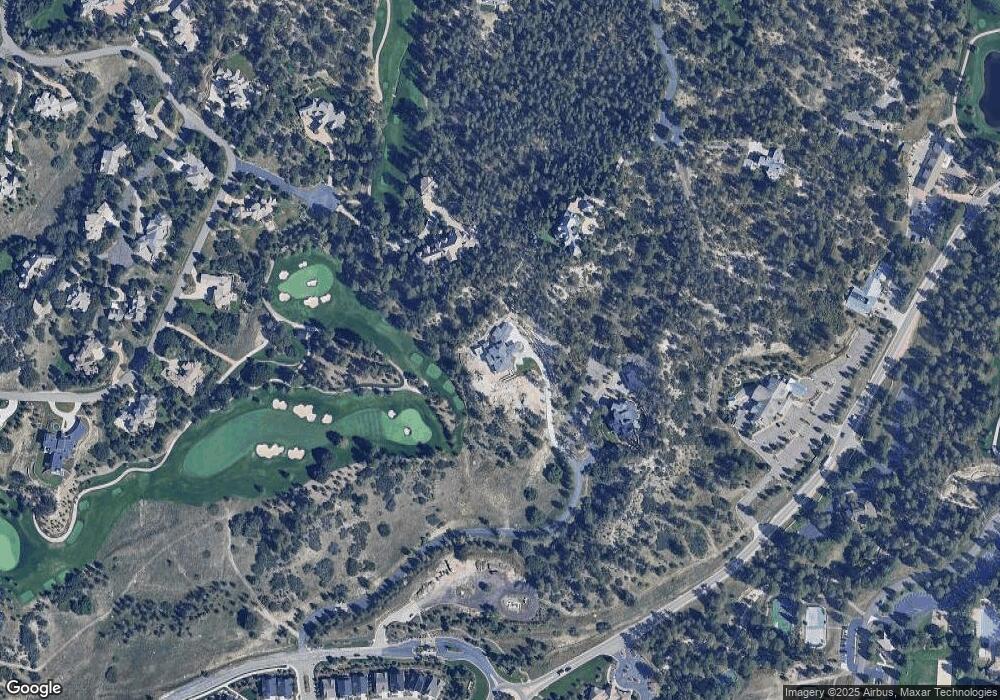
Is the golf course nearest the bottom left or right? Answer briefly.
left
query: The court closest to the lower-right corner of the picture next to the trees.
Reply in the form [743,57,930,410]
[805,606,826,645]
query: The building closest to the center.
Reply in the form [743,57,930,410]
[484,319,521,376]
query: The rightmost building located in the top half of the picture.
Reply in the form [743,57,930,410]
[913,142,955,191]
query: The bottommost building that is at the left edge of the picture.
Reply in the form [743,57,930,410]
[41,420,91,470]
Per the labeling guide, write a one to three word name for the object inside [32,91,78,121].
house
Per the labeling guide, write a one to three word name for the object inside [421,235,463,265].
house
